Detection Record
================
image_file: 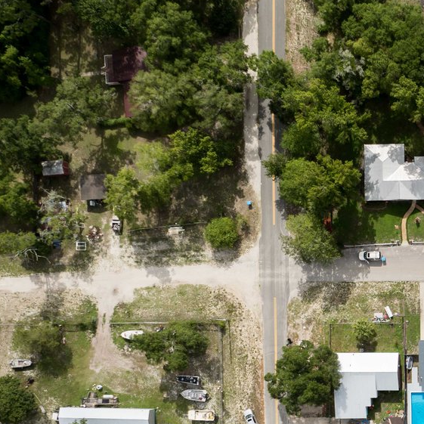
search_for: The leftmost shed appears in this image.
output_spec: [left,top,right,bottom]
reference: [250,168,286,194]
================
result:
[40,161,74,176]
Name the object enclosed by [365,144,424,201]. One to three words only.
house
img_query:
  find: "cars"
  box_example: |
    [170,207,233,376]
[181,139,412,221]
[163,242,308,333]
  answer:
[358,251,380,260]
[243,408,256,424]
